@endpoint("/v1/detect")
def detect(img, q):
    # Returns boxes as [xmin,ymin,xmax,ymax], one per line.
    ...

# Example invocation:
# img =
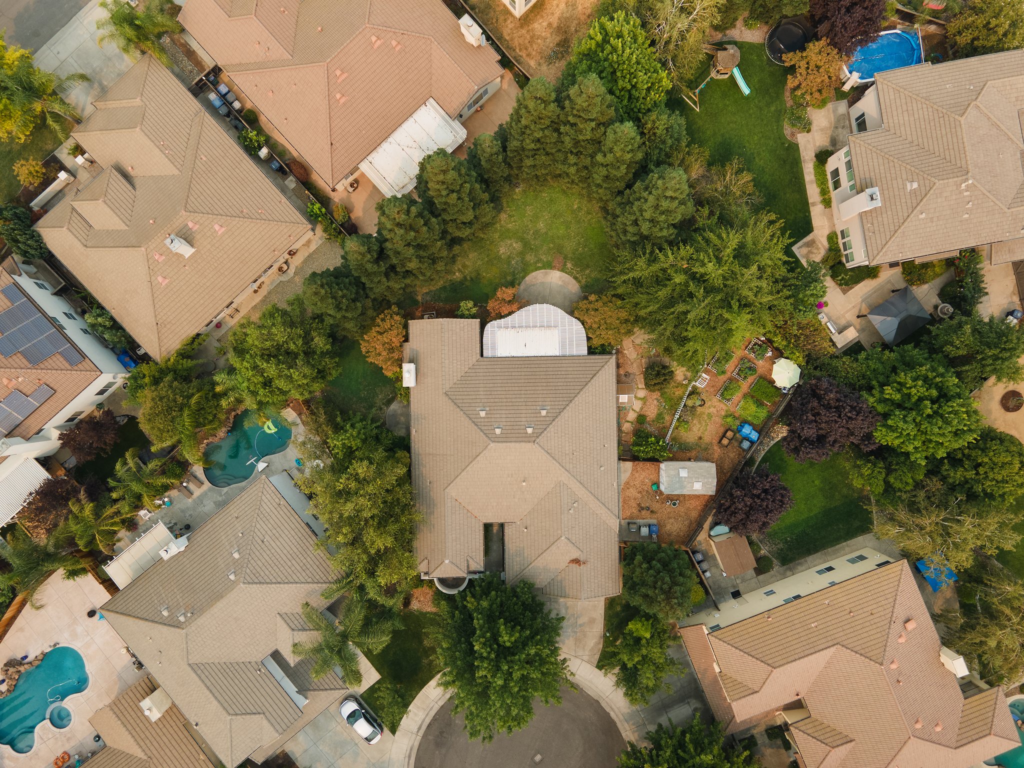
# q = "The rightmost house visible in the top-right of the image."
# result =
[822,42,1024,271]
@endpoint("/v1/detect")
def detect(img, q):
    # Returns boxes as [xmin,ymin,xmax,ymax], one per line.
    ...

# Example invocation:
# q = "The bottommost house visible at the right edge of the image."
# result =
[676,549,1023,768]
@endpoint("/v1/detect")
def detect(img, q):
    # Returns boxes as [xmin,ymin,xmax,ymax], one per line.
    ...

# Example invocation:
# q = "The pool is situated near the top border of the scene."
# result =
[839,28,922,90]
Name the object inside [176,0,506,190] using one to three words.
house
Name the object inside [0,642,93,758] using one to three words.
swimming pool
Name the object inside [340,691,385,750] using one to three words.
car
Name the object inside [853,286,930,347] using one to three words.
gazebo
